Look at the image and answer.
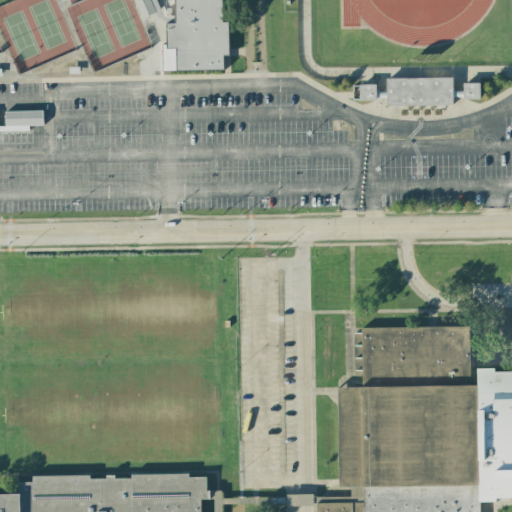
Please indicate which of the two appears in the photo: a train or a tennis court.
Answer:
tennis court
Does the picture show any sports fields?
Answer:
Yes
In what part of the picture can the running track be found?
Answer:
top right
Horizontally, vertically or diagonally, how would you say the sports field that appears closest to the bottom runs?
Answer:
horizontally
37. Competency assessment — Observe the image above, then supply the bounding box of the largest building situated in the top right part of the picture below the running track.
[386,77,454,108]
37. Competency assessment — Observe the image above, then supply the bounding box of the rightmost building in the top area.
[464,82,482,100]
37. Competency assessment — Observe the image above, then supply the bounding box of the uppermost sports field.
[2,259,220,358]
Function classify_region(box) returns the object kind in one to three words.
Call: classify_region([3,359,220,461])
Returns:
sports field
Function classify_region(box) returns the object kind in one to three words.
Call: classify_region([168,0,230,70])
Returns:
building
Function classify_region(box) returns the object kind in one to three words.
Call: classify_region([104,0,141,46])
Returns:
tennis court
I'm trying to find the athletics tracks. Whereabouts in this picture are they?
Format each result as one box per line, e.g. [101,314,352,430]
[342,0,496,48]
